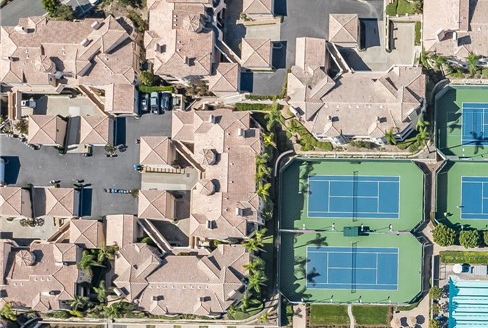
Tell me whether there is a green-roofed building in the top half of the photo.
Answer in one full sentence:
No, in the top half of the photo there is no green-roofed building.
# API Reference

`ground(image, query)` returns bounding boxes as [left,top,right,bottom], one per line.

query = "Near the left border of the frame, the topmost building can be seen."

[0,10,147,117]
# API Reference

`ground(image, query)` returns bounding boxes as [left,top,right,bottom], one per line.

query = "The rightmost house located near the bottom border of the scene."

[108,245,257,322]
